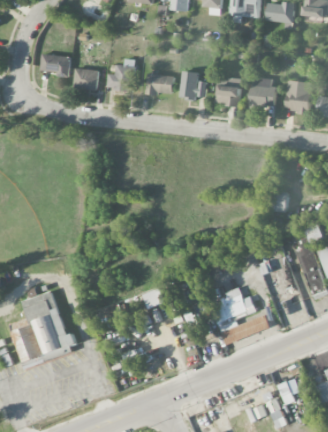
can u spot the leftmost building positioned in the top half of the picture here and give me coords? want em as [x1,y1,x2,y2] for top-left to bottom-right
[44,54,71,76]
